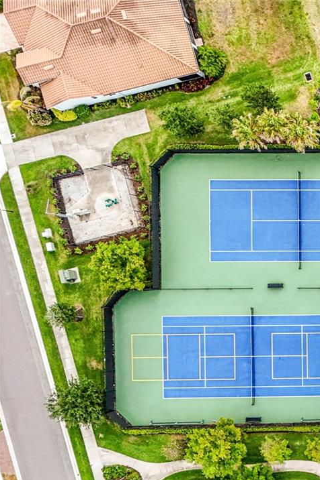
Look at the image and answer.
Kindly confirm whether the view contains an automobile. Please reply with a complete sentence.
No, the picture doesn't show any automobile.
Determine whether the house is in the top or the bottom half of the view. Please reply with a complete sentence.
The top half of the photo is where the house is.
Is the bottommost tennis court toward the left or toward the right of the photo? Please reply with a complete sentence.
The bottommost tennis court sits on the right side.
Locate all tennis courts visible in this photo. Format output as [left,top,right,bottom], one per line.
[161,154,320,289]
[114,289,320,427]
